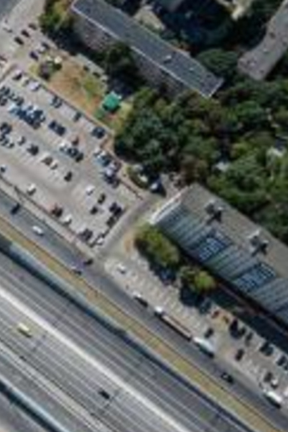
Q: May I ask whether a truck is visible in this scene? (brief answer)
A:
Yes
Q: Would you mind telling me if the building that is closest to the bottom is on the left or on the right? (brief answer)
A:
right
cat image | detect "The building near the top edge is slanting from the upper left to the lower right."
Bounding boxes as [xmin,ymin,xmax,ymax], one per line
[69,0,223,110]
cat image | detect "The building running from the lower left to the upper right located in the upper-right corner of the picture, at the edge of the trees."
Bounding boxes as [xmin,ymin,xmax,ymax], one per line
[223,11,288,98]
